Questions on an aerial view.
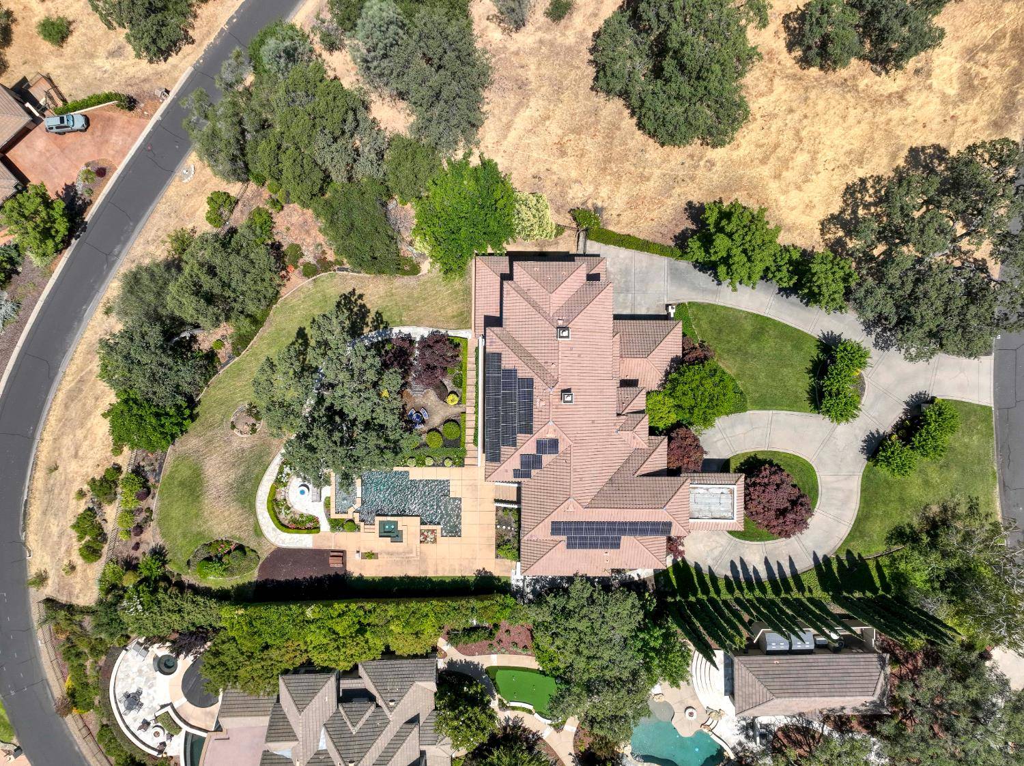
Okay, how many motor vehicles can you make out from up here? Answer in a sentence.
I count just 1 motor vehicle.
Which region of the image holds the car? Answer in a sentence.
The car is located in the top left region of the scene.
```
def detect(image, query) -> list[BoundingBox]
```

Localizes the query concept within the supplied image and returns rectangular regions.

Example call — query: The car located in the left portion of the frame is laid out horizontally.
[39,111,85,132]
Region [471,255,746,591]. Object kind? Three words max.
house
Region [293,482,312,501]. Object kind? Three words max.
fountain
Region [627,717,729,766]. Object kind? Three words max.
swimming pool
